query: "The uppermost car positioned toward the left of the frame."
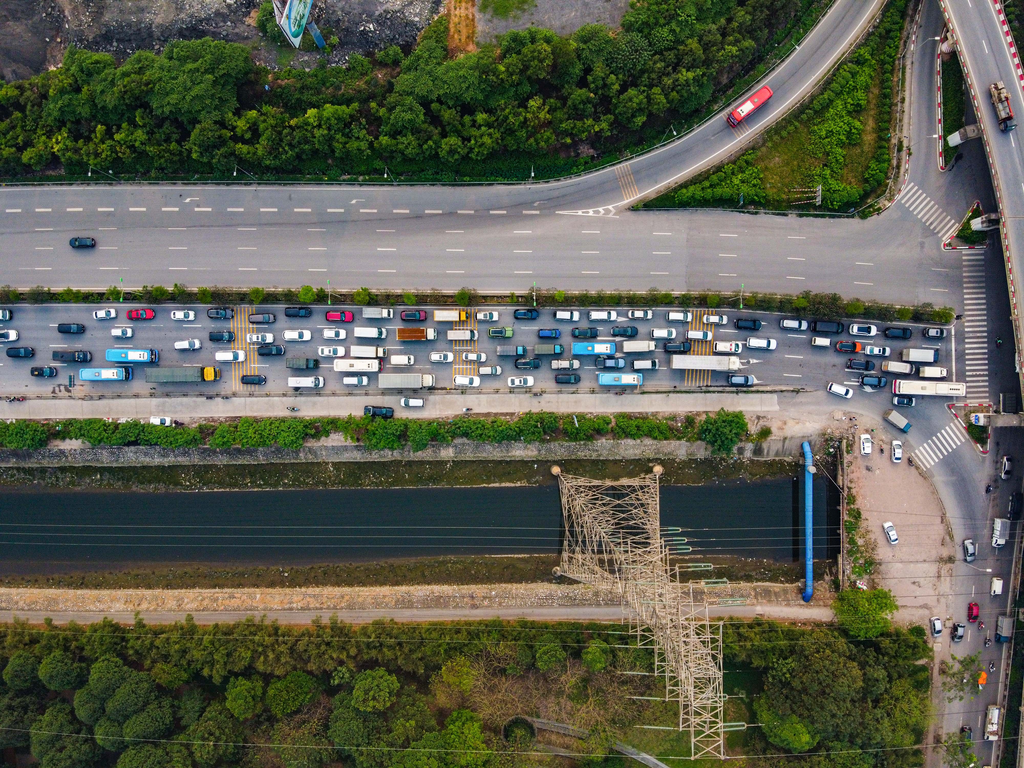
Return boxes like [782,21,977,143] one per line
[71,237,96,249]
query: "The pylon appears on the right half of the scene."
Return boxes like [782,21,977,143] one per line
[550,464,755,760]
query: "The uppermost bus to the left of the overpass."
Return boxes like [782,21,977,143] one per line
[725,82,777,130]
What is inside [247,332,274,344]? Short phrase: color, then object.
white vehicle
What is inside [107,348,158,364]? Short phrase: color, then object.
blue vehicle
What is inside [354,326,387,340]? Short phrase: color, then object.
white vehicle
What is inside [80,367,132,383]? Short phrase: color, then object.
blue vehicle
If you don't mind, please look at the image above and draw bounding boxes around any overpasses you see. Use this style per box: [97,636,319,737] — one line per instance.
[931,0,1024,500]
